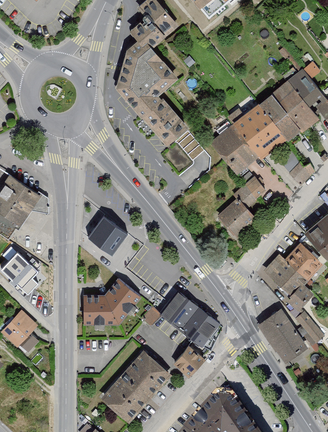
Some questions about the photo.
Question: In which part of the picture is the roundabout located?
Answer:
top left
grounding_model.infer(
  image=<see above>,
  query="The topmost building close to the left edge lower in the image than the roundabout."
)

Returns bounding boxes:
[0,175,48,240]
